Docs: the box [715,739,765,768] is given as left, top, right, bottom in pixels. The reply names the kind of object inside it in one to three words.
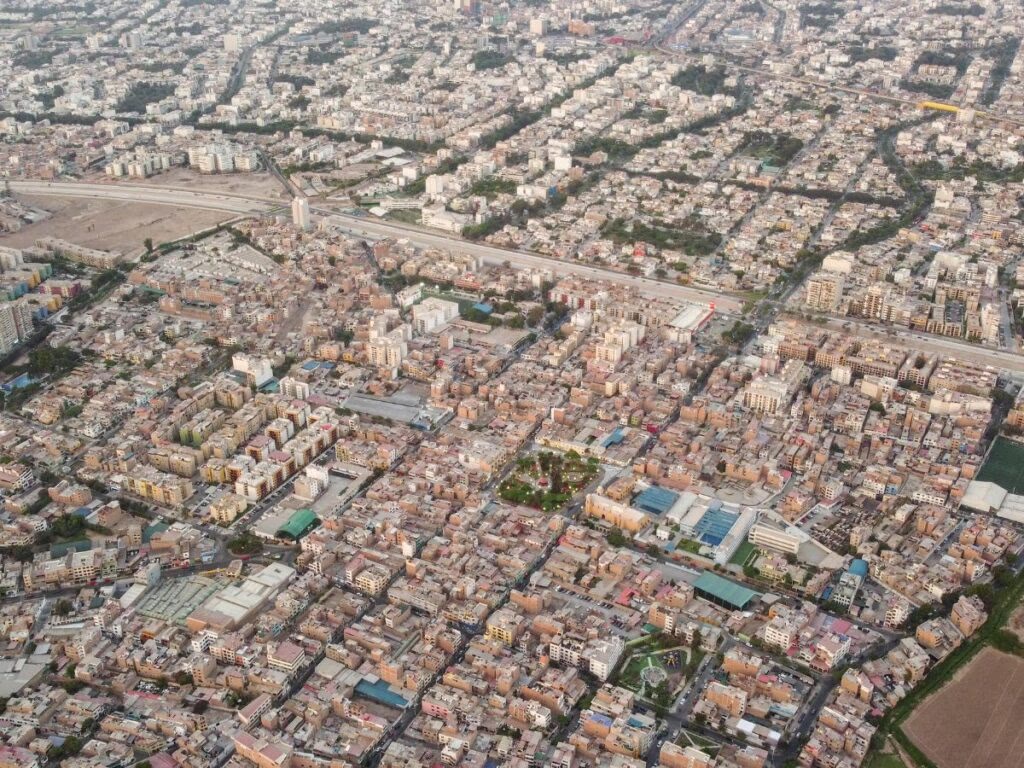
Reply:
house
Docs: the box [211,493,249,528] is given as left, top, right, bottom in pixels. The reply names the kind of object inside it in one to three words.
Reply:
building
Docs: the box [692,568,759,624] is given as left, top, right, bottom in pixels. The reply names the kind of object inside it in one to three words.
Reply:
shed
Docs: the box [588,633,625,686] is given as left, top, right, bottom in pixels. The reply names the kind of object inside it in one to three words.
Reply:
building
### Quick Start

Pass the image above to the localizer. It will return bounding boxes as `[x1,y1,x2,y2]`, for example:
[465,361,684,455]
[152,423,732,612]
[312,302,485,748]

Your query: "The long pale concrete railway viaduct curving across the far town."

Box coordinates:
[650,39,1024,122]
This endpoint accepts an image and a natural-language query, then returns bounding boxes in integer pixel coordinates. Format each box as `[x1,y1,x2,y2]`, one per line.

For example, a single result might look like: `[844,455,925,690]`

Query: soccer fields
[977,435,1024,497]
